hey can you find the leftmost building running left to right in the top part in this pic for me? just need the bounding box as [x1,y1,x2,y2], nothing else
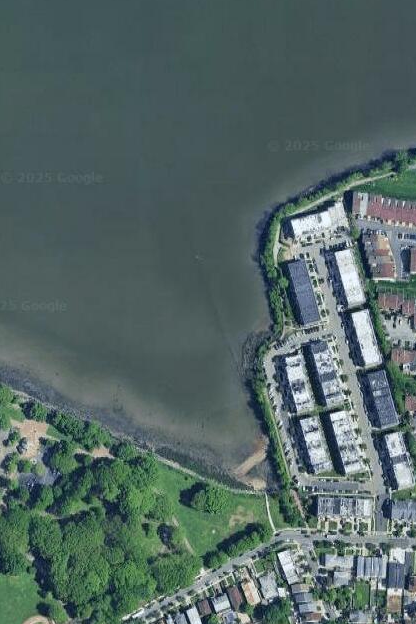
[291,203,351,240]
